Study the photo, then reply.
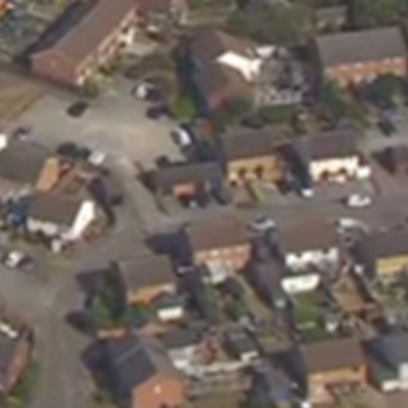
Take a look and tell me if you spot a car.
Yes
